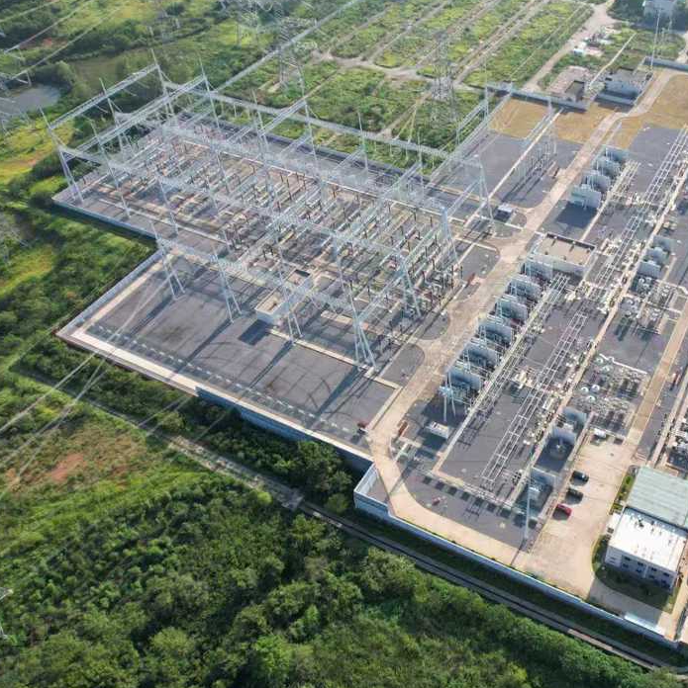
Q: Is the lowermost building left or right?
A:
right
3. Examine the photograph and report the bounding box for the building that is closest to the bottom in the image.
[600,507,688,593]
